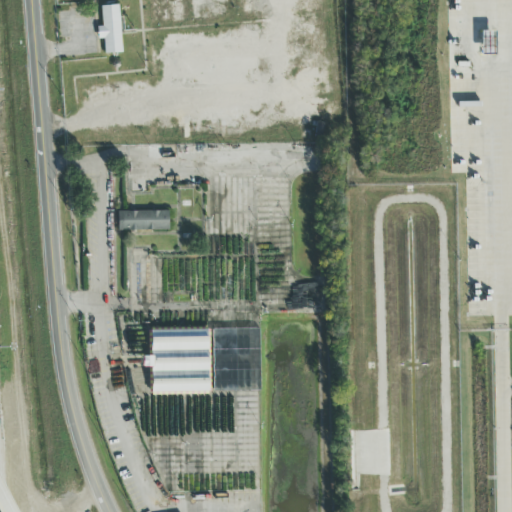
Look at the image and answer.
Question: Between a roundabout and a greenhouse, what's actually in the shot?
greenhouse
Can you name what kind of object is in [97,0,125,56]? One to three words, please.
building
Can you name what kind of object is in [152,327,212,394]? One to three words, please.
greenhouse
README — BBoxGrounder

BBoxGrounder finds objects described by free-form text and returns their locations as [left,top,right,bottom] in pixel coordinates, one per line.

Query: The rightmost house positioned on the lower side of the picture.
[214,328,260,388]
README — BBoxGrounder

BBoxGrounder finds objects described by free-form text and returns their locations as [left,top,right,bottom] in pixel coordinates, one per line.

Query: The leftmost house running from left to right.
[119,210,170,234]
